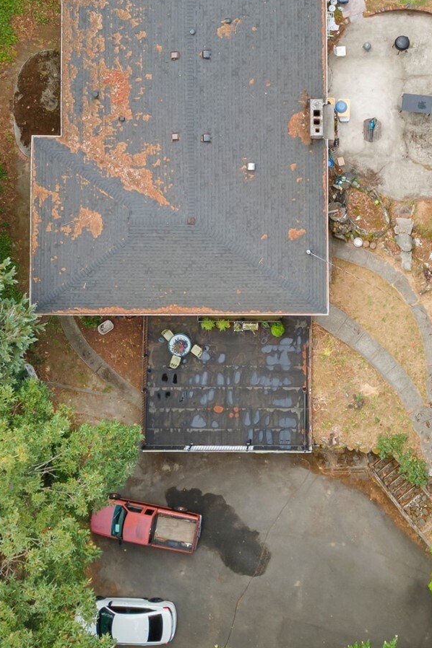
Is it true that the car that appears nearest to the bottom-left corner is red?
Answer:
No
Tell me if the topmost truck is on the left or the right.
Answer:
left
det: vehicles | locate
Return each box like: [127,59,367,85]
[87,491,206,556]
[80,596,177,648]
